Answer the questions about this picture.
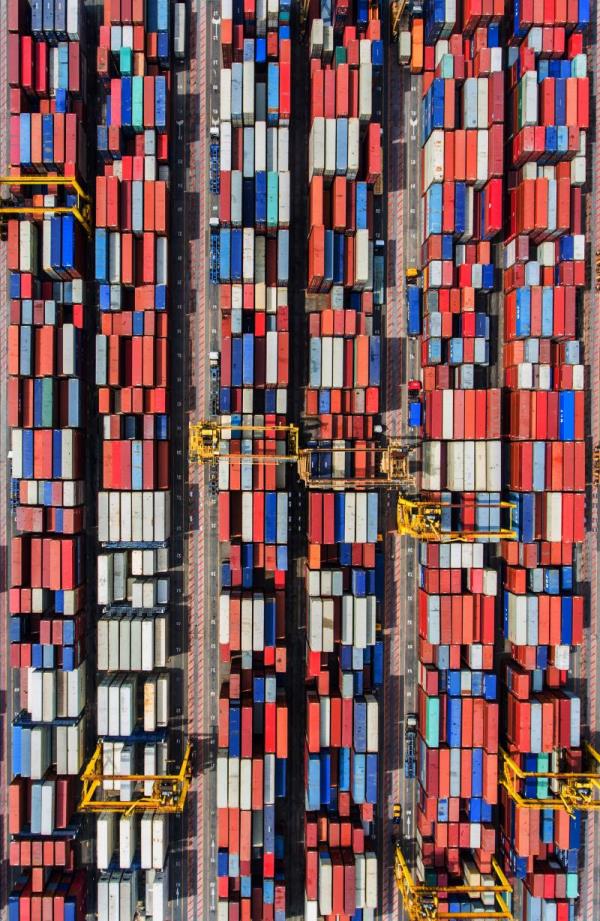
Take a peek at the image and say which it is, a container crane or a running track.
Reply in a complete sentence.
Visible in the photo is a container crane.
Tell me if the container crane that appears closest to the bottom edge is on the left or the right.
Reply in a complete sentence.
You can find the container crane that appears closest to the bottom edge on the right side of the picture.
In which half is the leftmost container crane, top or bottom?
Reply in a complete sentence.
Seen from above, the leftmost container crane lies in the top half of the view.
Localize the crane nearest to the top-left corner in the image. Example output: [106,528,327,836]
[0,177,97,247]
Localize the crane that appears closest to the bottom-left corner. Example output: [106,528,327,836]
[80,733,199,829]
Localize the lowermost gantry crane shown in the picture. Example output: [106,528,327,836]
[391,833,516,921]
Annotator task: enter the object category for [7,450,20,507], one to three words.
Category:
vehicle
